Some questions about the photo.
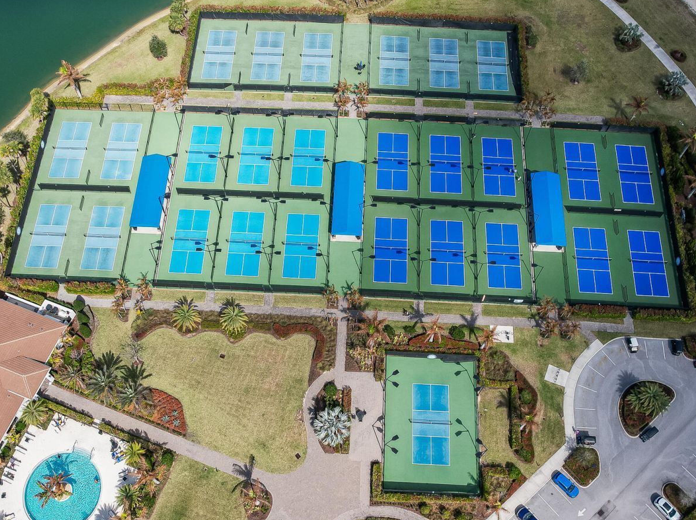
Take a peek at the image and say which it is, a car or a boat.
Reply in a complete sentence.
Of the two, only a car appears.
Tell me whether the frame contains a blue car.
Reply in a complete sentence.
Yes, the photo shows a blue car.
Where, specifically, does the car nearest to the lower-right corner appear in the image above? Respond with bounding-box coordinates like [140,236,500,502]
[652,494,682,520]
